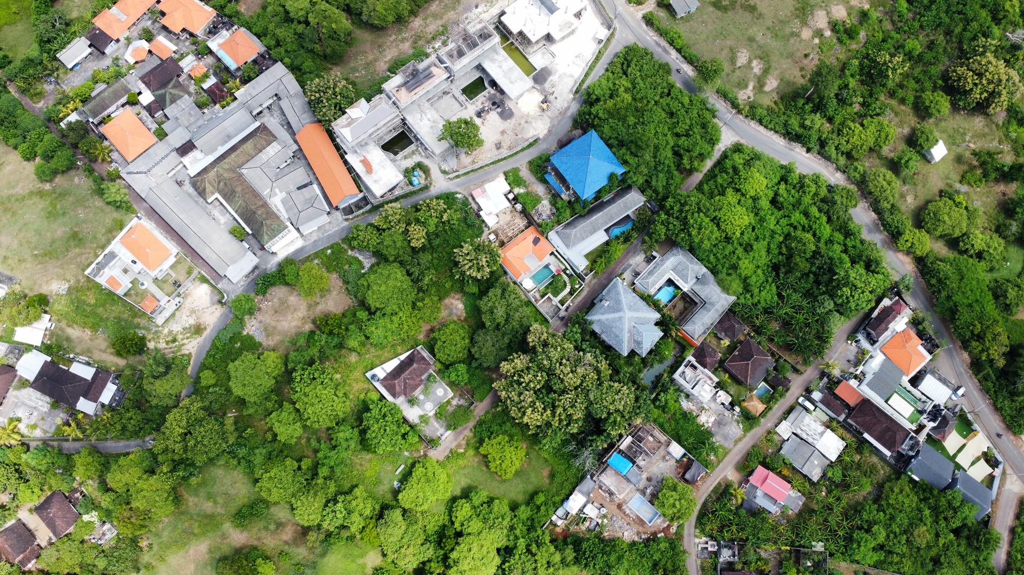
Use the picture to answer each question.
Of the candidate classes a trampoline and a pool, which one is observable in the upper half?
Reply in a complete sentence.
There is a pool in the upper half.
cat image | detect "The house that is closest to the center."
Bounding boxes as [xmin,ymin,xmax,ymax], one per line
[501,225,556,280]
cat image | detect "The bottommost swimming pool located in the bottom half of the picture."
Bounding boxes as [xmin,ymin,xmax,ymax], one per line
[626,492,660,525]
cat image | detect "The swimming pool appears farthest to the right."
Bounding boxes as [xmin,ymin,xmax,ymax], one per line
[895,384,919,407]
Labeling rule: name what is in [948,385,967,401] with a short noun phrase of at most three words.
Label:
car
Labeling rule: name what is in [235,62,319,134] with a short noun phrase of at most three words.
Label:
building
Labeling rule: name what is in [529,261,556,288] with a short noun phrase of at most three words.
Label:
swimming pool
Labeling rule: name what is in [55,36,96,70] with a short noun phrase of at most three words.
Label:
shed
